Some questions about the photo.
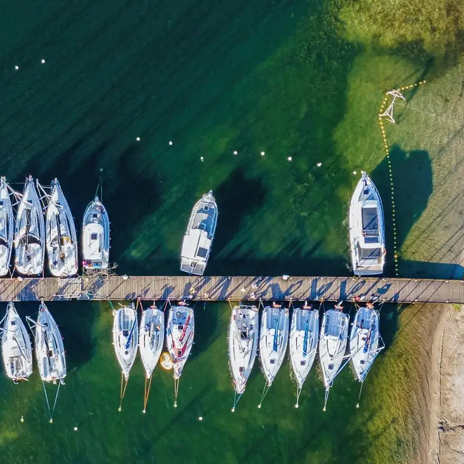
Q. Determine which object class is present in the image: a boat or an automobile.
boat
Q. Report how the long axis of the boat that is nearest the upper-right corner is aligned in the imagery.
vertically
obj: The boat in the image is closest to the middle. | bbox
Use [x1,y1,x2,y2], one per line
[180,189,220,275]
